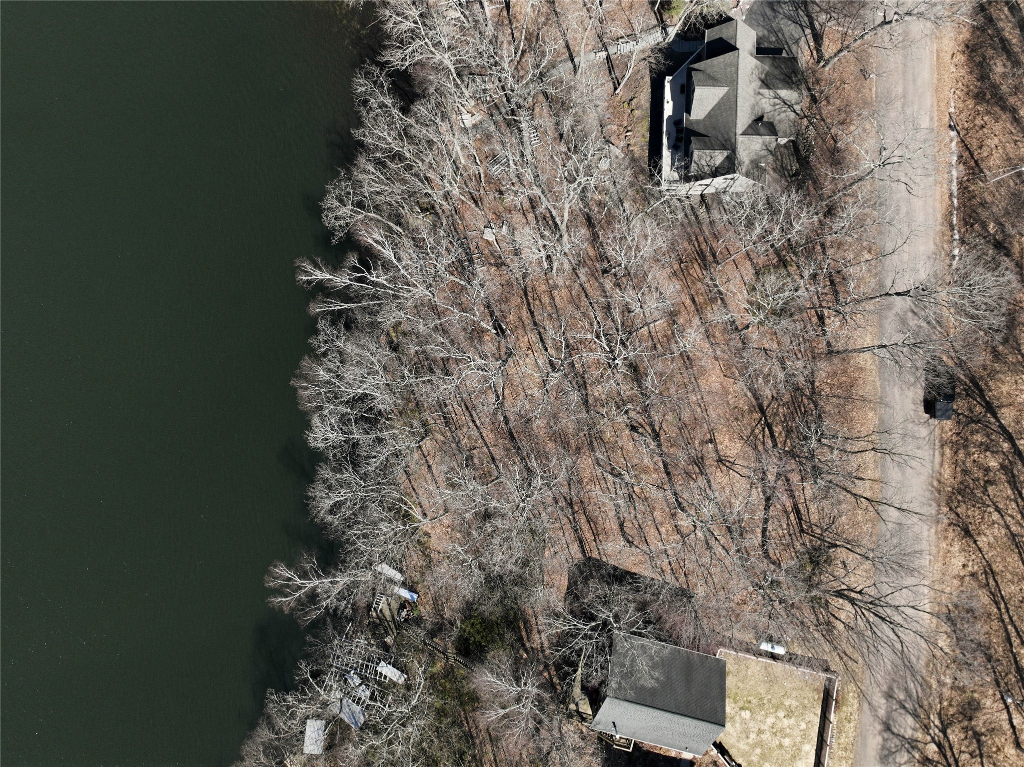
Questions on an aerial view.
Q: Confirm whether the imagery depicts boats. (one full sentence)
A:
No, I can't see a single boat in this photo.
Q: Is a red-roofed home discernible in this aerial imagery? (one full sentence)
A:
No, this view has no red-roofed home in it.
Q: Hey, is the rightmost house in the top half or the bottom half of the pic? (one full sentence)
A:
The top half of the photo is where the rightmost house is.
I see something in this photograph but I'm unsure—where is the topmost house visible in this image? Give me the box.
[677,20,806,193]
